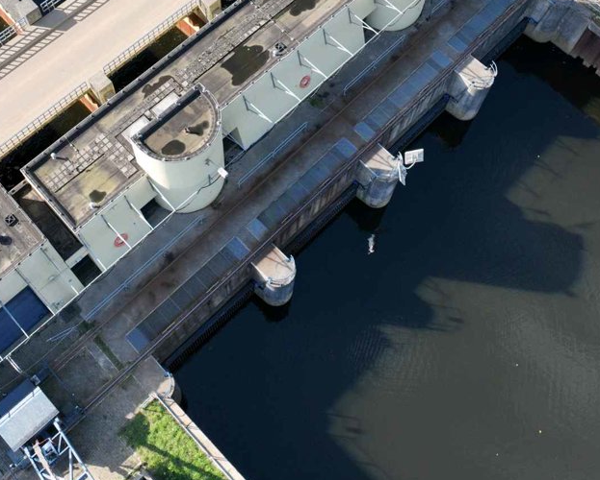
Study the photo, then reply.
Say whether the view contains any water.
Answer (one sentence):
Yes, there's water in this view.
